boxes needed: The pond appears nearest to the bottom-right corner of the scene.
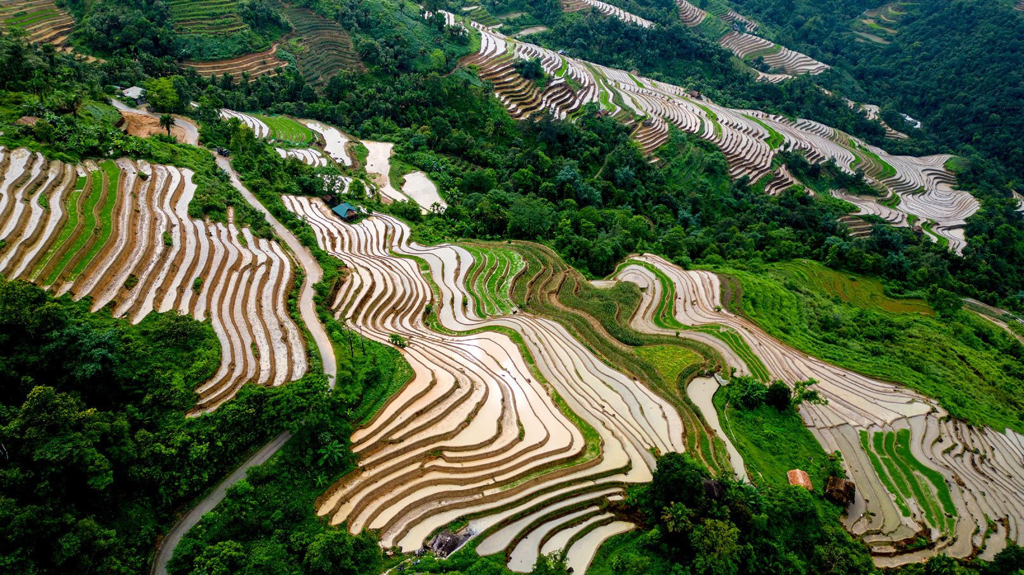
[689,376,748,483]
